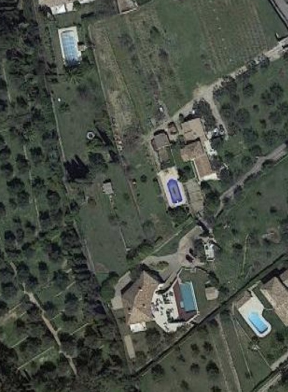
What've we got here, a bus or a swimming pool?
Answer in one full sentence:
There is a swimming pool in the scene.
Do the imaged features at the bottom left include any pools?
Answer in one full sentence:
No, I can find no pool at the bottom left.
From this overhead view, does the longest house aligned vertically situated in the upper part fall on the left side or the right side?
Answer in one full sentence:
The longest house aligned vertically situated in the upper part is on the right side of the image.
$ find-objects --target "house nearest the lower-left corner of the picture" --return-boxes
[122,271,160,326]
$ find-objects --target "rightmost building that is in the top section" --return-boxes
[181,119,213,181]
